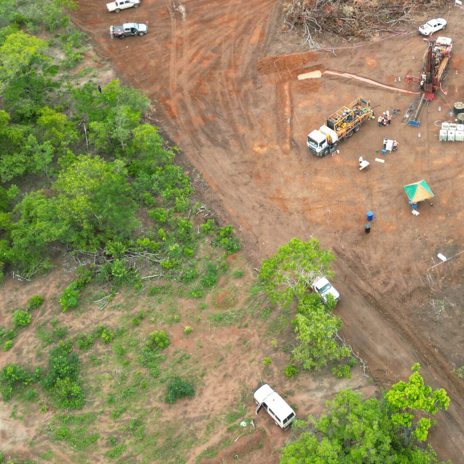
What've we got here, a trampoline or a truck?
truck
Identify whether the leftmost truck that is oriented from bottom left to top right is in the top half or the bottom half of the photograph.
top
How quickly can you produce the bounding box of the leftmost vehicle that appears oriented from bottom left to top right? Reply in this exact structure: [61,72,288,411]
[305,98,374,160]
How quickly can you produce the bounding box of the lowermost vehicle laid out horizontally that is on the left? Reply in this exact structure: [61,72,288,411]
[113,24,149,40]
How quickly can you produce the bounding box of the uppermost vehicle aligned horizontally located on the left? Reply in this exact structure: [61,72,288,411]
[108,0,142,14]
